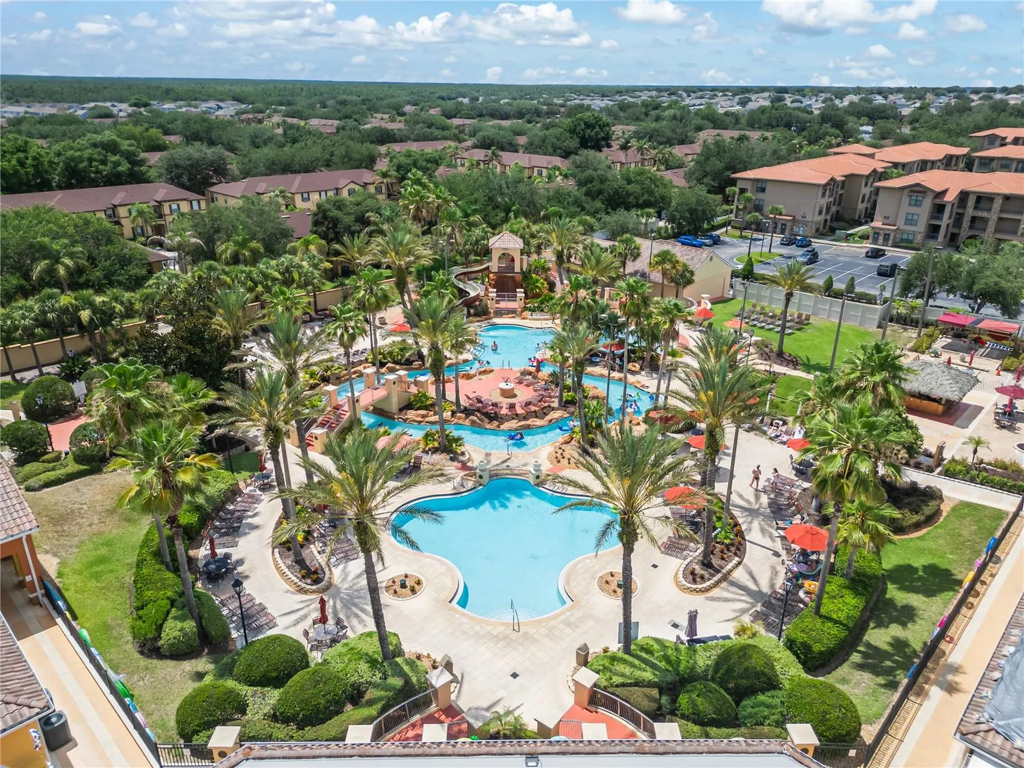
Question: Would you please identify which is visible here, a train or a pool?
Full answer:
Of the two, only a pool appears.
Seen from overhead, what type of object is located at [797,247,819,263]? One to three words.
car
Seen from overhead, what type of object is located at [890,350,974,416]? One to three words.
shed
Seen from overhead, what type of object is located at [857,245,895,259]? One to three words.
car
